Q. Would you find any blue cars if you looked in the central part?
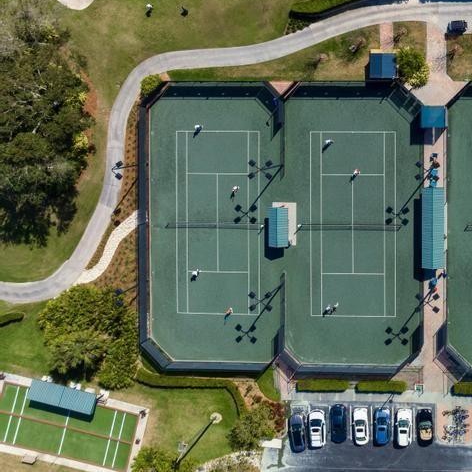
No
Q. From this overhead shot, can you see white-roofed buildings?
No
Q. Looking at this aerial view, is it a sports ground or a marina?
sports ground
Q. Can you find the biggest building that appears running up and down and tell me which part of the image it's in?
right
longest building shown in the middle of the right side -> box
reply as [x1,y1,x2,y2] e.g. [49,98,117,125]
[421,185,445,270]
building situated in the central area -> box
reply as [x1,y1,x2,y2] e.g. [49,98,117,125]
[269,205,292,248]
